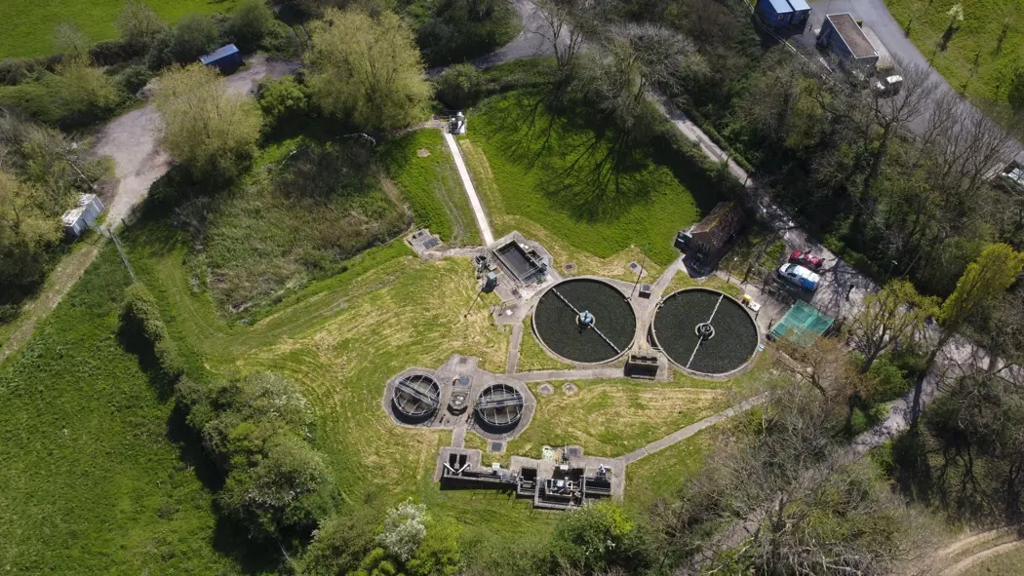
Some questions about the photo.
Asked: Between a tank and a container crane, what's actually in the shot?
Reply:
tank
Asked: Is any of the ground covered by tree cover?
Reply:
Yes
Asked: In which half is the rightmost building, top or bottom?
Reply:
top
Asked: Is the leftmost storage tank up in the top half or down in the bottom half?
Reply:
bottom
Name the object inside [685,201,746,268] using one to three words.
house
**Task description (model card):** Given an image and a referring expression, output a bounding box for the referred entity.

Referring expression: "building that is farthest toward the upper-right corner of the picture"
[812,11,880,83]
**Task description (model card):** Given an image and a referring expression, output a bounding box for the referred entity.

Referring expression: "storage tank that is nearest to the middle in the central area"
[493,240,541,284]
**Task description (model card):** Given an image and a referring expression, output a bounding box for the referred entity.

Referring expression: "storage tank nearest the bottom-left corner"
[393,372,441,420]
